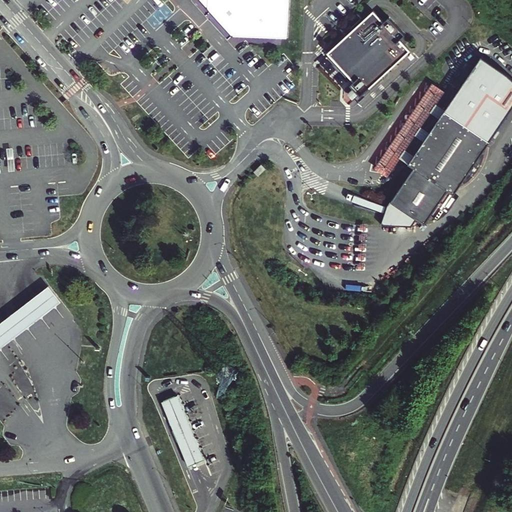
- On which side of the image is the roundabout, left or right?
left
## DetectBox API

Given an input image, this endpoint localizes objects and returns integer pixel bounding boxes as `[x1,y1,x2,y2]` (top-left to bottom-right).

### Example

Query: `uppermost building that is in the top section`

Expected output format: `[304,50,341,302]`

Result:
[190,0,288,45]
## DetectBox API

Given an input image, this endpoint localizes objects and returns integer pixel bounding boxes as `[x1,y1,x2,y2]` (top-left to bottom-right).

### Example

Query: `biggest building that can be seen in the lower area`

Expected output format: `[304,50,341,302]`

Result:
[162,394,211,476]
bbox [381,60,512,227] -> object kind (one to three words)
warehouse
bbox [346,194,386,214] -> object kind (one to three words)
vehicle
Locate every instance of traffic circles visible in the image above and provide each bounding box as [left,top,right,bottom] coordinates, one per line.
[68,153,228,408]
